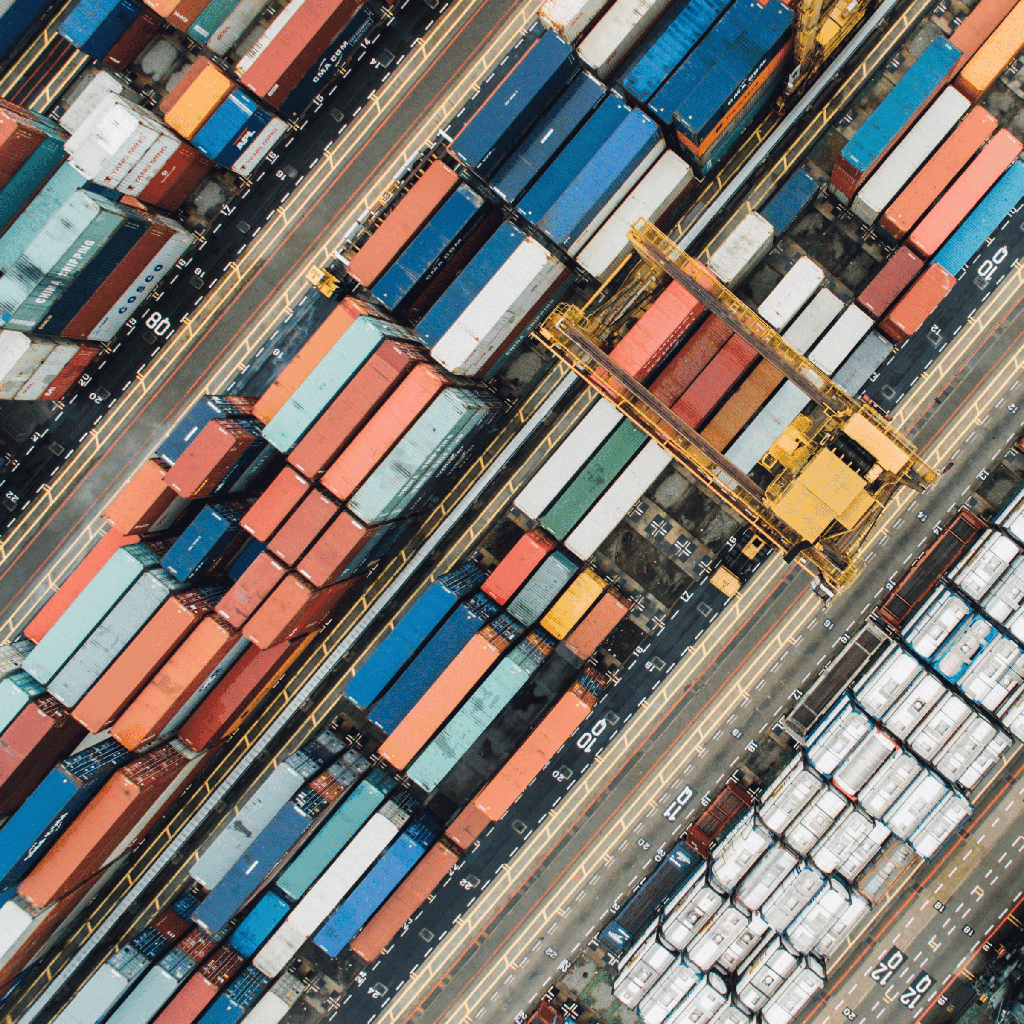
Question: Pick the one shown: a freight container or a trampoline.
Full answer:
The image shows a freight container.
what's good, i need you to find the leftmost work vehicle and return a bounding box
[297,247,355,297]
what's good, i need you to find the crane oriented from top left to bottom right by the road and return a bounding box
[528,213,957,603]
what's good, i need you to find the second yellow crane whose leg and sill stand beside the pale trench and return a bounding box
[769,0,890,121]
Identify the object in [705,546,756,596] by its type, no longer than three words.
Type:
work vehicle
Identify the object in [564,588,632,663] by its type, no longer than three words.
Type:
shipping container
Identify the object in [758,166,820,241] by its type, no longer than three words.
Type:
shipping container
